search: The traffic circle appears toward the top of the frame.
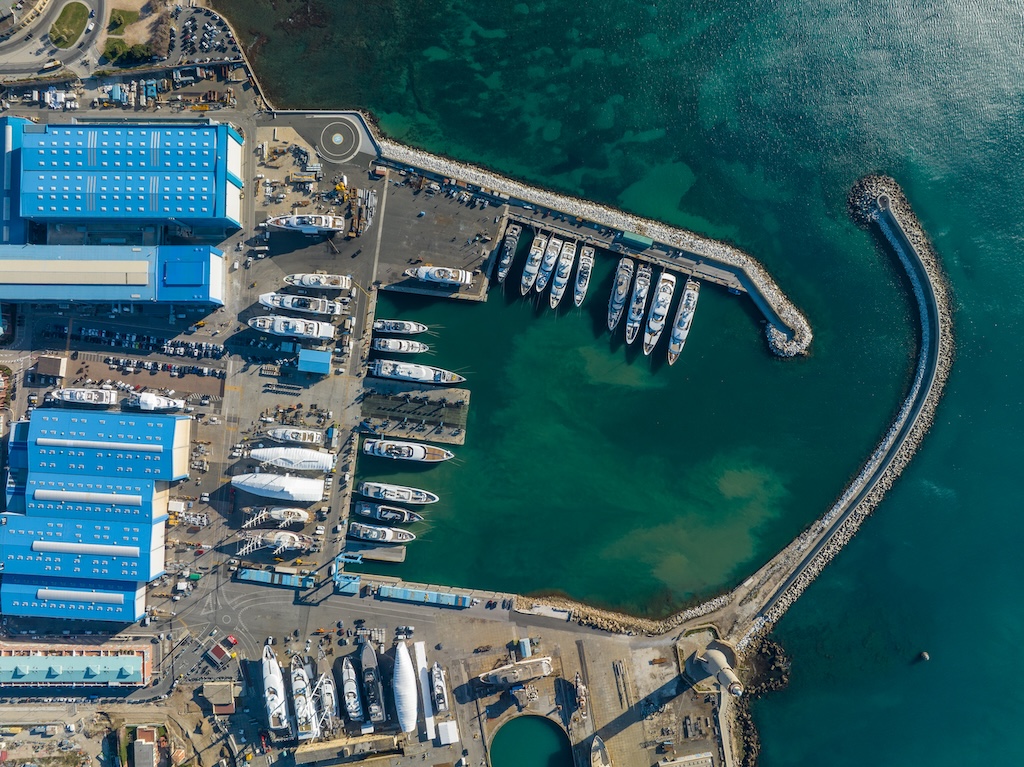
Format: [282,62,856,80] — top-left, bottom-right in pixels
[47,0,91,50]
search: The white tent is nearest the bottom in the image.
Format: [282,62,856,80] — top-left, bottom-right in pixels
[438,718,459,745]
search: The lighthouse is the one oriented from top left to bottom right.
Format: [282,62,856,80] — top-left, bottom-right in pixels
[697,641,742,696]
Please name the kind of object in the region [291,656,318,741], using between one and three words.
boat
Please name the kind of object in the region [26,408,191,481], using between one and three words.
building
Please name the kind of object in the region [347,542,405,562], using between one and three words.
pier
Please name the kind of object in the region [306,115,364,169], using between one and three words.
helipad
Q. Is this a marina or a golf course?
marina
